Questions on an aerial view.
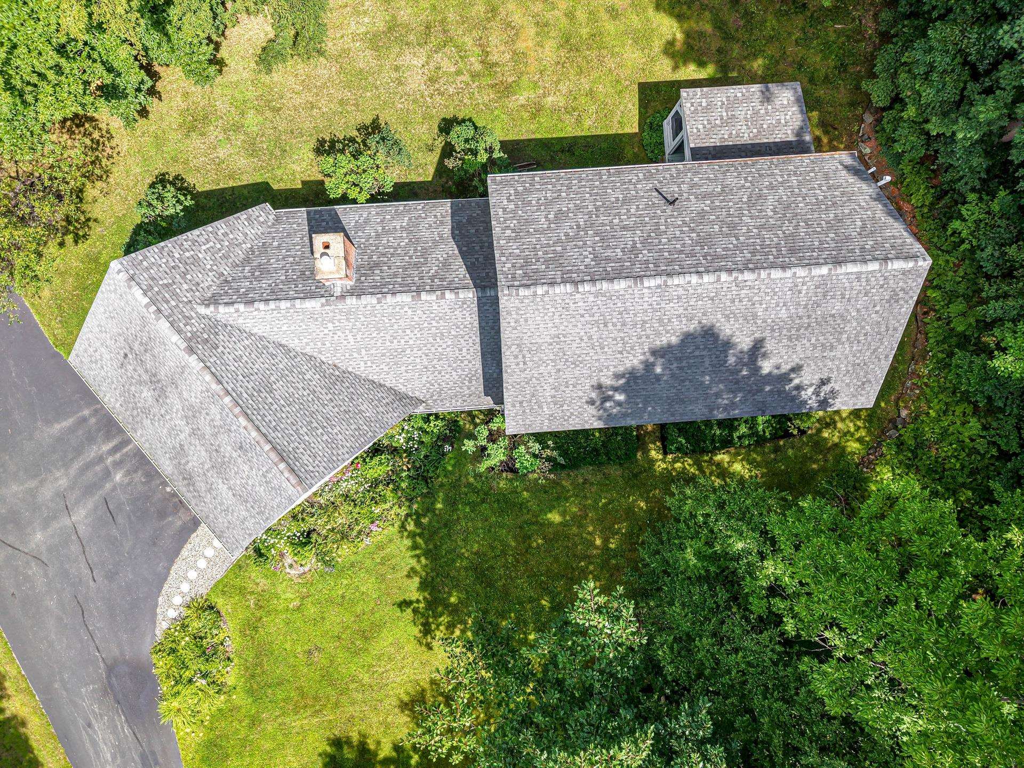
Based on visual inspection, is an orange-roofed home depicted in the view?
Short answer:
No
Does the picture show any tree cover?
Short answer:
Yes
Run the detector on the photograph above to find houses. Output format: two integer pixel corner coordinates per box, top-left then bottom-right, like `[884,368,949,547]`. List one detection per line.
[68,83,933,559]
